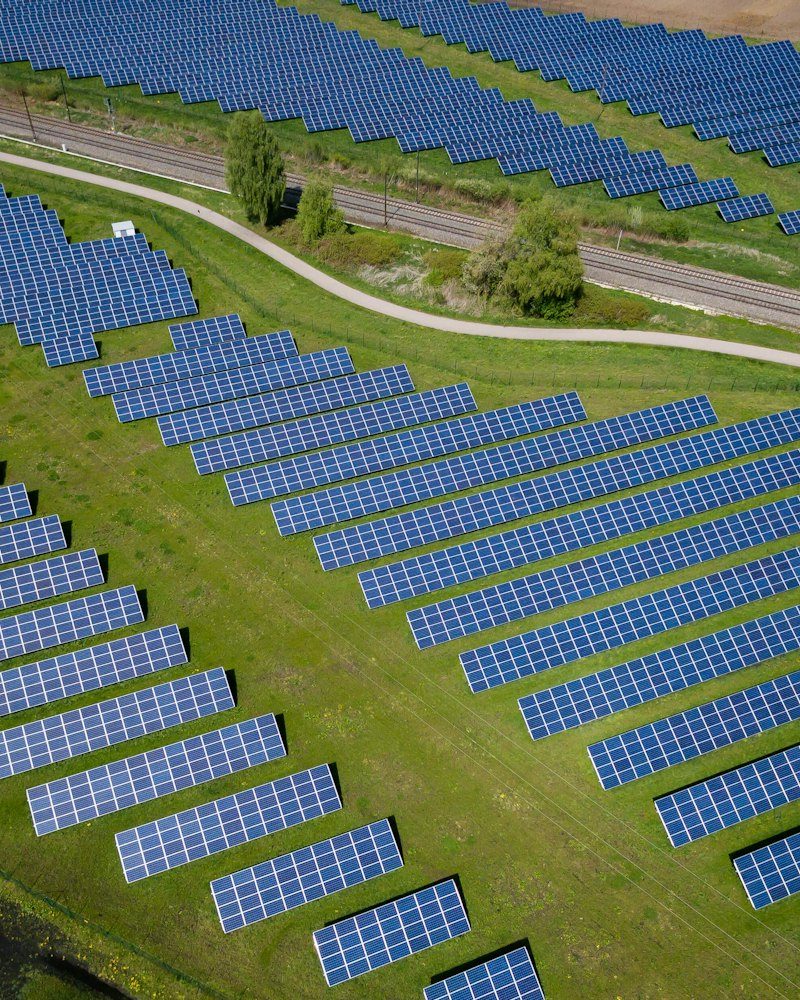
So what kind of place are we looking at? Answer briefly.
solar farm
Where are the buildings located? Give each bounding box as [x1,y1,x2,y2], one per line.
[110,220,134,238]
